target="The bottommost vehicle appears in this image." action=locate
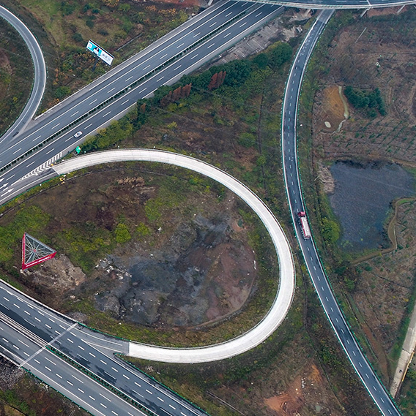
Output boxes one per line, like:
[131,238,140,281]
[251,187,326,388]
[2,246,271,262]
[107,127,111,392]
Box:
[298,210,311,239]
